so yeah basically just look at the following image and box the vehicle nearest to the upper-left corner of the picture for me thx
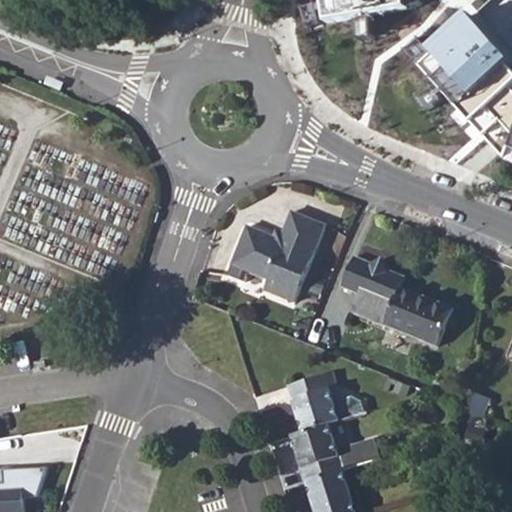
[213,177,232,196]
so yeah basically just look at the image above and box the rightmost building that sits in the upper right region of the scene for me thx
[416,10,512,163]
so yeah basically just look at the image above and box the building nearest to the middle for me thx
[228,211,326,304]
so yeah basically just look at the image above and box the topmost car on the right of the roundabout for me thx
[431,174,454,188]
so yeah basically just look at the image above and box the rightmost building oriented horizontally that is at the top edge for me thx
[318,0,405,38]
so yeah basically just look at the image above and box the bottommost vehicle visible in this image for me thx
[198,488,222,502]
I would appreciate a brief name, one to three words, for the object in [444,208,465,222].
car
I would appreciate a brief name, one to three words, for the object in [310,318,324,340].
car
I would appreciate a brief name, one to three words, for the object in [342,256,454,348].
house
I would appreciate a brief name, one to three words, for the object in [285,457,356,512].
house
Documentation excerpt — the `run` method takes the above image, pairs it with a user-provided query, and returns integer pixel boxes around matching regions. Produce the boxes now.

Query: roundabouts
[133,25,314,222]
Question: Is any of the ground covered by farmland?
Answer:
No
